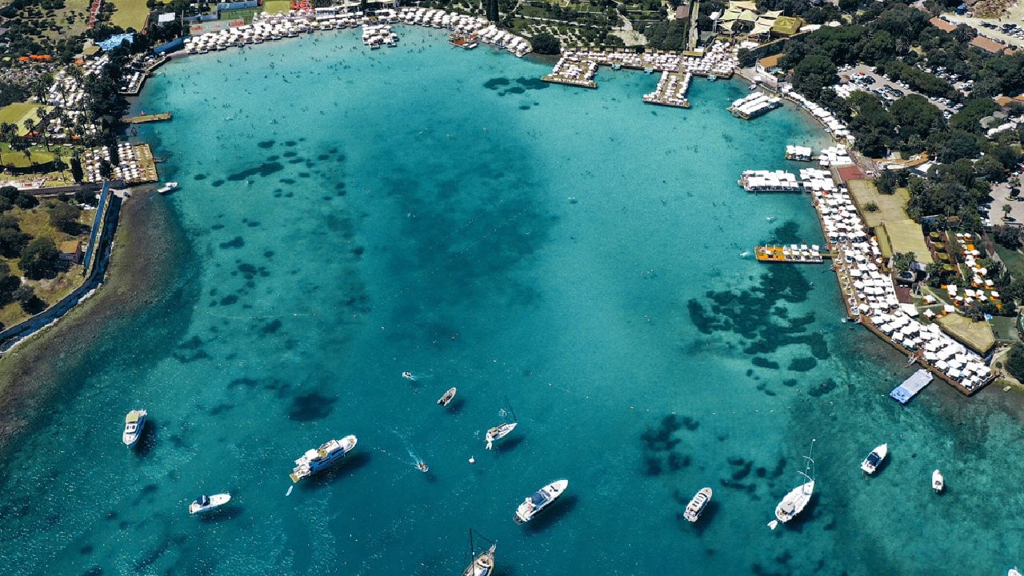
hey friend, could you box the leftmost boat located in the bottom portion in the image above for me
[125,407,148,442]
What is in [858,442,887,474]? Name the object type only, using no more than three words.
boat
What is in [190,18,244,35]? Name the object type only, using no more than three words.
basketball court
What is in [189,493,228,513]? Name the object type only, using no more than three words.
boat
